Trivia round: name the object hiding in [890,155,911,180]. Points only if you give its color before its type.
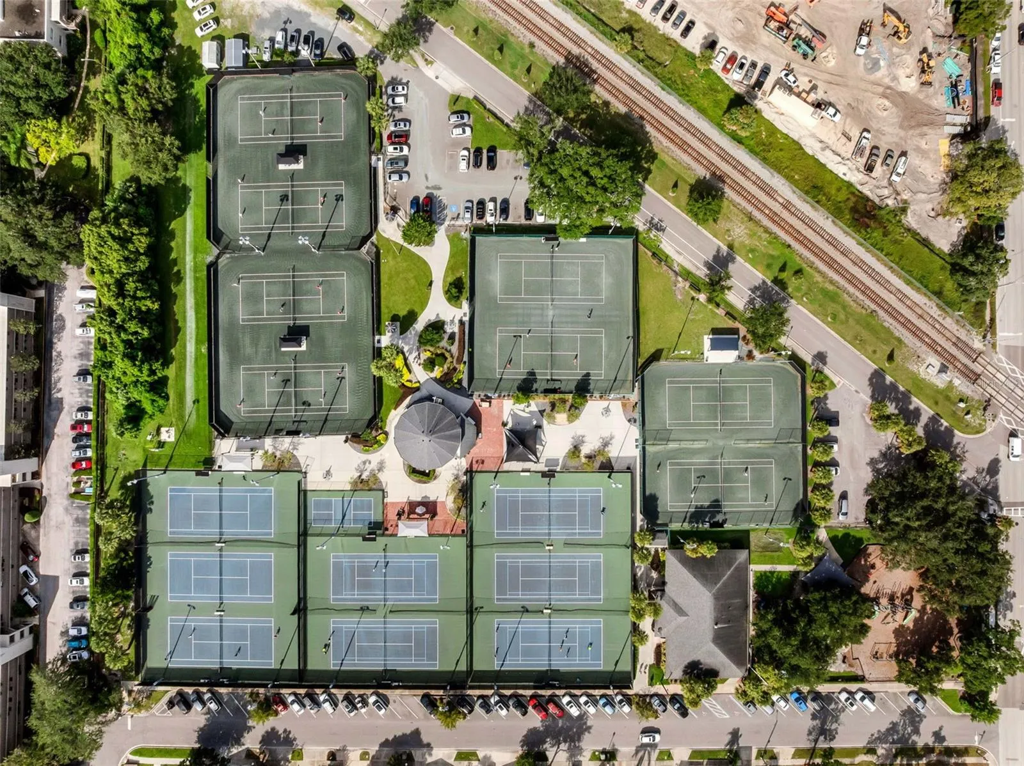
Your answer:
white vehicle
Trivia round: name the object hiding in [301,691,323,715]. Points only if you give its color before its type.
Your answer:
gray truck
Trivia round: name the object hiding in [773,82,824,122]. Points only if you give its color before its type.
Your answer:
white trailer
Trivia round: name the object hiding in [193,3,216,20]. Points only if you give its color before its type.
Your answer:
white car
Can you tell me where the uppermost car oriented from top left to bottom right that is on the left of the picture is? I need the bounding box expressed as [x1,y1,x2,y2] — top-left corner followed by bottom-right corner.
[335,4,356,23]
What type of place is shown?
sports ground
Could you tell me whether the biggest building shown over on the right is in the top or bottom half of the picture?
bottom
